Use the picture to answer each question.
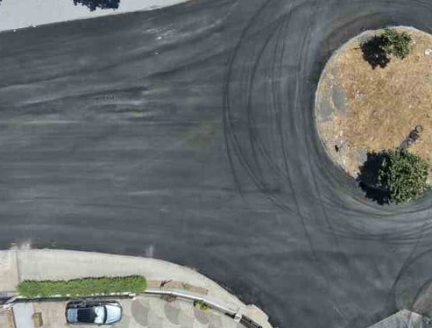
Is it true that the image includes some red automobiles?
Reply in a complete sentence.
No, no red automobile is visible in the scene.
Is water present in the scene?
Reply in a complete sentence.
No, water can't be seen anywhere here.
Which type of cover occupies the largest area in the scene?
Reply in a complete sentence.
The largest share of the image is taken up by paved ground.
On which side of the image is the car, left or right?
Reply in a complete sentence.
The car appears in the left half of the scene.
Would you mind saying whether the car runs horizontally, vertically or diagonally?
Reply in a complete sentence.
The car is oriented horizontally.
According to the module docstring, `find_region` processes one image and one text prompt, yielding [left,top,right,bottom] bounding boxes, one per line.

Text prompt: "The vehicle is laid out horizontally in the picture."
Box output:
[65,297,124,327]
